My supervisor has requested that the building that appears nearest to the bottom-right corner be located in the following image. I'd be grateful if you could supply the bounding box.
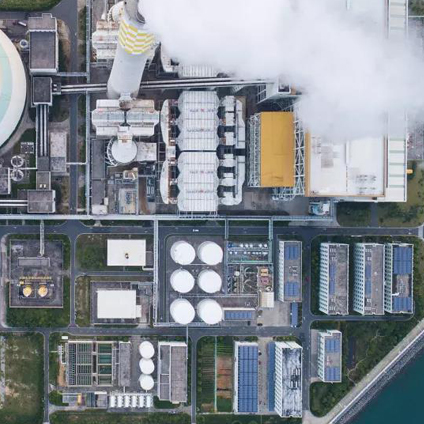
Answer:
[318,331,343,382]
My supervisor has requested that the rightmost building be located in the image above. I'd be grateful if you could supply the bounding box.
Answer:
[385,241,413,313]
